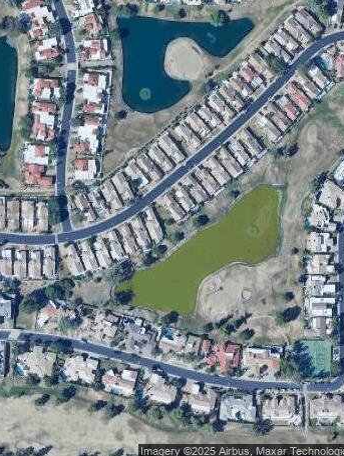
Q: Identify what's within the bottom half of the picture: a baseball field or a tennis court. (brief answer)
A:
tennis court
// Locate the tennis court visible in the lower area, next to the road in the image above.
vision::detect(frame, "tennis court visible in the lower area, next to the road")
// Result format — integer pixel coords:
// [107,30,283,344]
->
[301,339,331,376]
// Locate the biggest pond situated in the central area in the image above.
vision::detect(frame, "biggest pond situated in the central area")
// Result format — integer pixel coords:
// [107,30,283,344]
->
[115,184,282,314]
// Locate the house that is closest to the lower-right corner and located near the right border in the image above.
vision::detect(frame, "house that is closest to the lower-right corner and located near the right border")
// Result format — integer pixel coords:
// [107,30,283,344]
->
[312,394,344,425]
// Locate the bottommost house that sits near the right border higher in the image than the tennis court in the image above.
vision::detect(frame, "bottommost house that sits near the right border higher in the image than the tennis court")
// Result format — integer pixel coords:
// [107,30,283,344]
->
[306,318,333,336]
